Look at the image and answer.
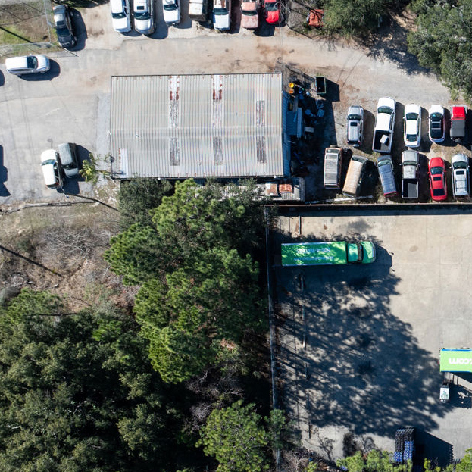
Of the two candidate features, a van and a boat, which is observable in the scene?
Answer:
van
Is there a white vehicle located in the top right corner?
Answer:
Yes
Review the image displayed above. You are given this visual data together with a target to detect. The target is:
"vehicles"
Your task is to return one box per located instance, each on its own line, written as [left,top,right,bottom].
[435,347,472,374]
[341,155,369,198]
[321,146,343,192]
[56,142,84,180]
[131,0,155,37]
[309,11,337,28]
[209,0,232,32]
[7,54,52,75]
[374,155,399,199]
[439,373,451,406]
[186,0,209,25]
[399,150,420,200]
[448,106,467,144]
[238,0,261,31]
[370,97,395,155]
[448,154,470,199]
[344,106,364,148]
[427,105,446,144]
[53,5,78,50]
[261,0,282,26]
[427,157,447,202]
[37,149,66,192]
[159,0,183,27]
[402,104,422,149]
[109,0,132,34]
